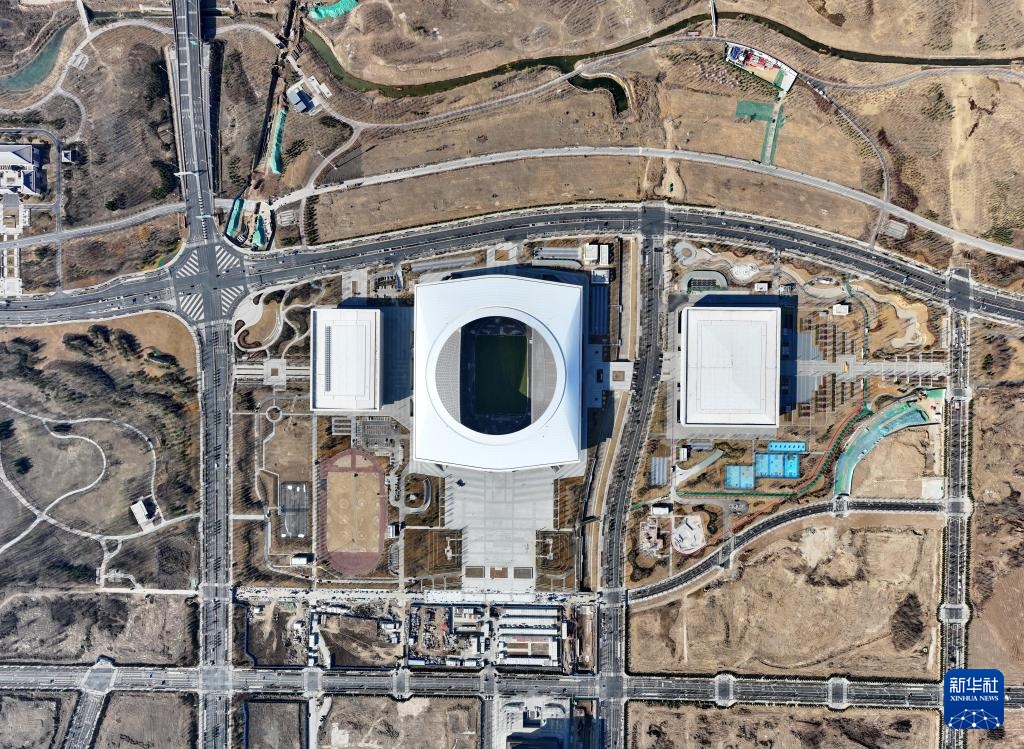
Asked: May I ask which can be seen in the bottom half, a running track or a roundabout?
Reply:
running track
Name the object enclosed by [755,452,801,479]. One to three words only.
sports court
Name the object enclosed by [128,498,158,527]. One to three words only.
building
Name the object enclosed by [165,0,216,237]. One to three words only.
overpass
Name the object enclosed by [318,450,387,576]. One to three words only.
running track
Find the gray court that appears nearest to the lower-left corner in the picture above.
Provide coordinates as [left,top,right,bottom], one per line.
[281,482,306,538]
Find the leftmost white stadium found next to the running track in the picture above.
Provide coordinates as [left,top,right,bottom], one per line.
[311,309,383,410]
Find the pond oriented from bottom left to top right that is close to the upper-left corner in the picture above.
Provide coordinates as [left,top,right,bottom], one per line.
[0,25,68,92]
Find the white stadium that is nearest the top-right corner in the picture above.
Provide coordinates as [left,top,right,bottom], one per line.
[676,307,781,427]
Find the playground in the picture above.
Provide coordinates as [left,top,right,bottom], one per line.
[640,517,663,557]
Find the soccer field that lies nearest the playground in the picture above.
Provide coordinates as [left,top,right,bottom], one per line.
[475,336,527,416]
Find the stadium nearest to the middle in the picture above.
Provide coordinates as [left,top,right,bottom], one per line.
[411,266,588,485]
